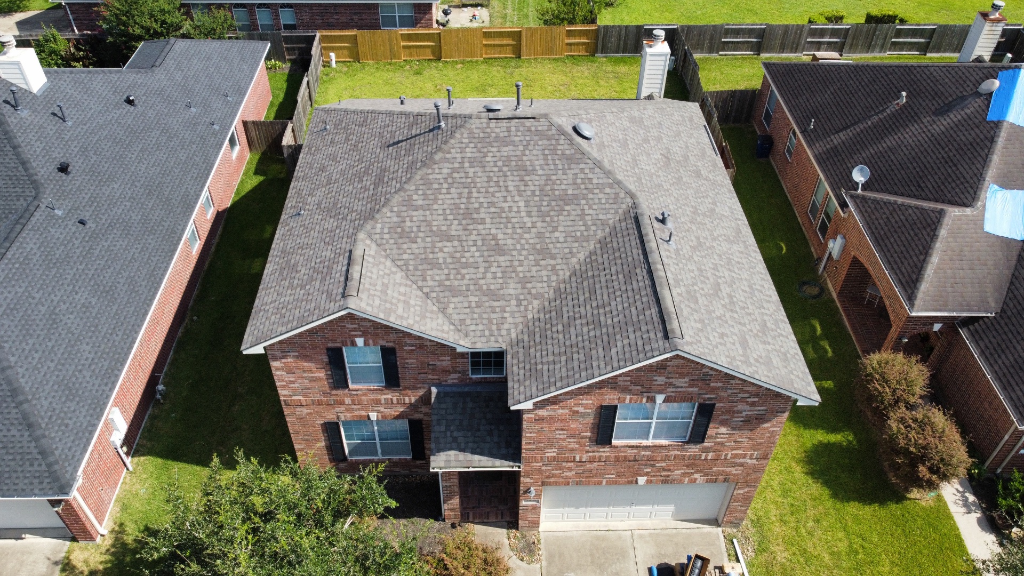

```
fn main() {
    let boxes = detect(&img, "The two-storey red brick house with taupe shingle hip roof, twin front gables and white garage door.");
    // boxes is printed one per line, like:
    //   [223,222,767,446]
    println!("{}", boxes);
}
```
[242,26,820,532]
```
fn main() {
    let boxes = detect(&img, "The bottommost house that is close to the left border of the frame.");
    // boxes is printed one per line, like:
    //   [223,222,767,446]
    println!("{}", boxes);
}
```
[0,32,271,540]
